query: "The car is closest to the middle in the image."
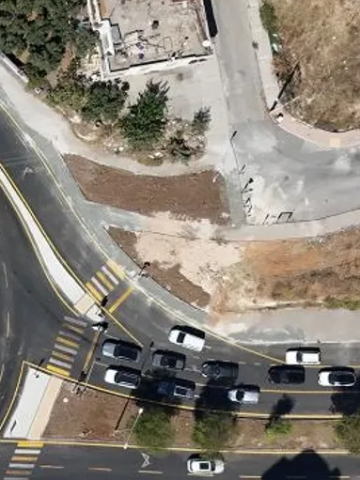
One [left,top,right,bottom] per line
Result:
[168,329,206,351]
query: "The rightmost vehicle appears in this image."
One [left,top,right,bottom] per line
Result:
[317,369,355,387]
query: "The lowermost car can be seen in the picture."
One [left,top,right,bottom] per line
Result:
[185,457,224,475]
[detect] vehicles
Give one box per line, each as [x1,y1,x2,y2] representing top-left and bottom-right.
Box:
[149,351,188,370]
[102,342,141,361]
[157,379,197,399]
[168,329,206,351]
[185,457,224,475]
[317,369,355,387]
[225,385,263,403]
[266,366,305,385]
[283,347,321,366]
[201,361,239,380]
[103,367,143,390]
